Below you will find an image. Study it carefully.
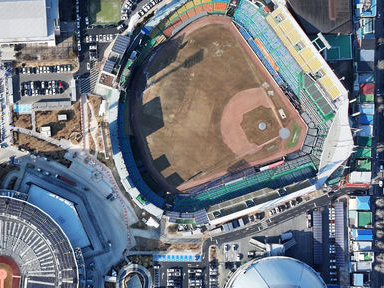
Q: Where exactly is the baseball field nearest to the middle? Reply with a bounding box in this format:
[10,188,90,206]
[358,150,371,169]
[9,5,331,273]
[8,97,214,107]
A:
[131,15,309,196]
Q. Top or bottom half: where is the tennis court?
top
